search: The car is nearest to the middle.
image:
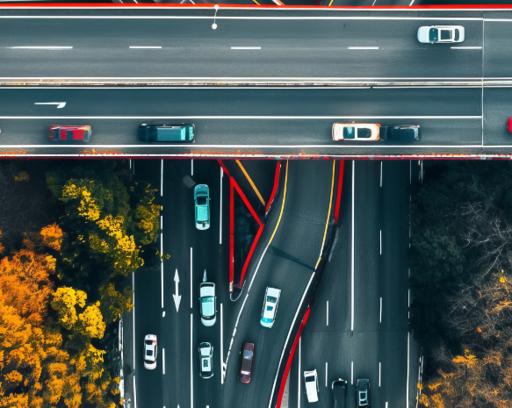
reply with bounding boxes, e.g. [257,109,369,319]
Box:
[192,183,211,230]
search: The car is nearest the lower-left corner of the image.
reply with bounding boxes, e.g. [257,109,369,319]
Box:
[141,335,158,371]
